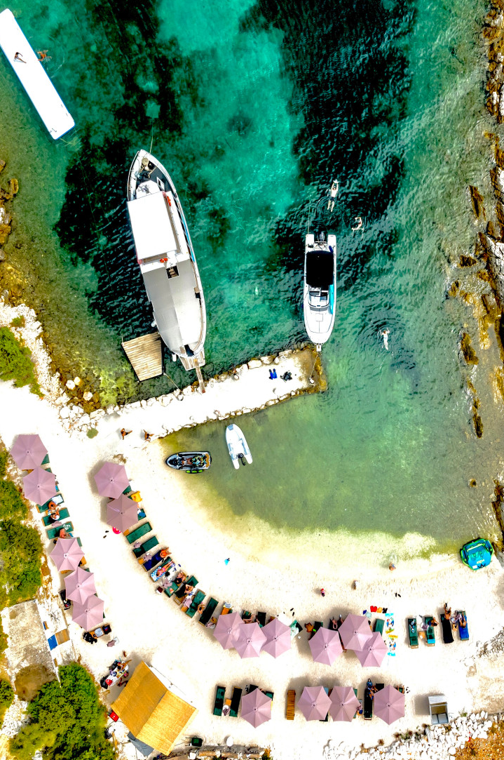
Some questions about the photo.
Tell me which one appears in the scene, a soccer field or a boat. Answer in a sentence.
The image shows a boat.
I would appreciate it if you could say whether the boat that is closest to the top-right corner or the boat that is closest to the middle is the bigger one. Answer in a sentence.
Of the two, the boat that is closest to the top-right corner is larger and the boat that is closest to the middle is the smaller one.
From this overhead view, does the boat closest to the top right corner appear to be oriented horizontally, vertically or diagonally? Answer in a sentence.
From this overhead view, the boat closest to the top right corner appears to run vertically.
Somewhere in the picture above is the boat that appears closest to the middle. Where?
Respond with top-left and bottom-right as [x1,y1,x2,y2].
[225,423,251,467]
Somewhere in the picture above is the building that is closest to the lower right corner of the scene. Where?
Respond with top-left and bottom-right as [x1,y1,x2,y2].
[428,695,449,726]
